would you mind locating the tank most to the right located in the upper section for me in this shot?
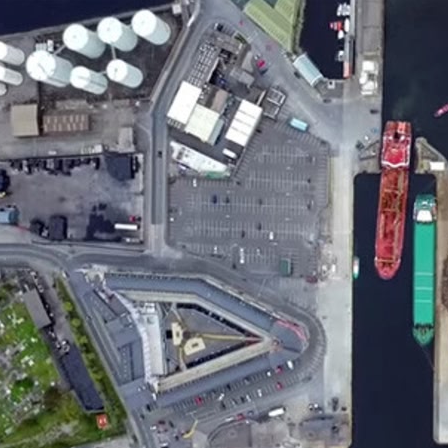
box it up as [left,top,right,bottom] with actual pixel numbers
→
[131,8,171,45]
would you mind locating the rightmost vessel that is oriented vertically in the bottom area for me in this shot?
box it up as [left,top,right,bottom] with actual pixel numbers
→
[413,194,437,347]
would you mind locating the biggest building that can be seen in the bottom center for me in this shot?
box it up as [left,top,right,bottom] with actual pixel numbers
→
[106,273,312,411]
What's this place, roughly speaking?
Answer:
industrial area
